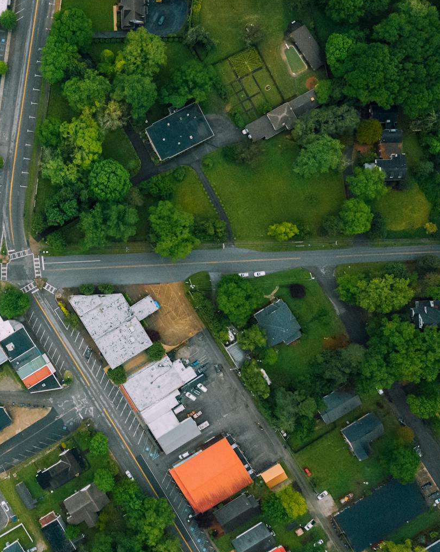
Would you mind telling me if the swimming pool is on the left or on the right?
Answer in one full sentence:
The swimming pool sits on the right side.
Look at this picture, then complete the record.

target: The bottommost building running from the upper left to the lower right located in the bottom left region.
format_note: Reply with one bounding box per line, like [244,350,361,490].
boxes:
[38,510,77,552]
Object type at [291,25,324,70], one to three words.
building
